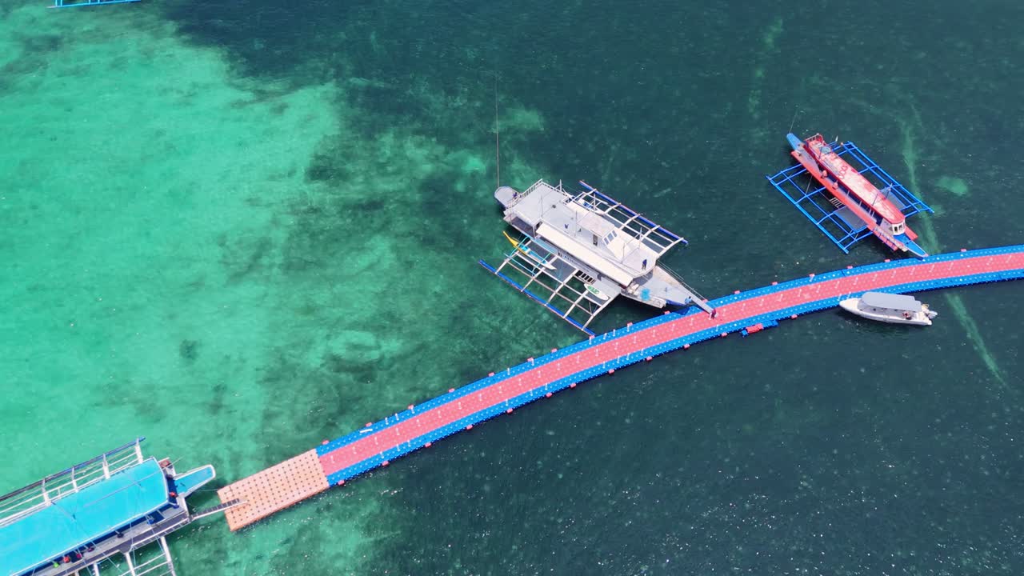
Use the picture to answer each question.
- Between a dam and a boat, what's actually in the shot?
boat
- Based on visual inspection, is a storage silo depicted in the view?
No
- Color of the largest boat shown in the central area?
white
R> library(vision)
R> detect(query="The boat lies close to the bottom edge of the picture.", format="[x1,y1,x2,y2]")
[0,436,218,576]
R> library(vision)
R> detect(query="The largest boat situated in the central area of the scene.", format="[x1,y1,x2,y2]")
[478,175,691,334]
